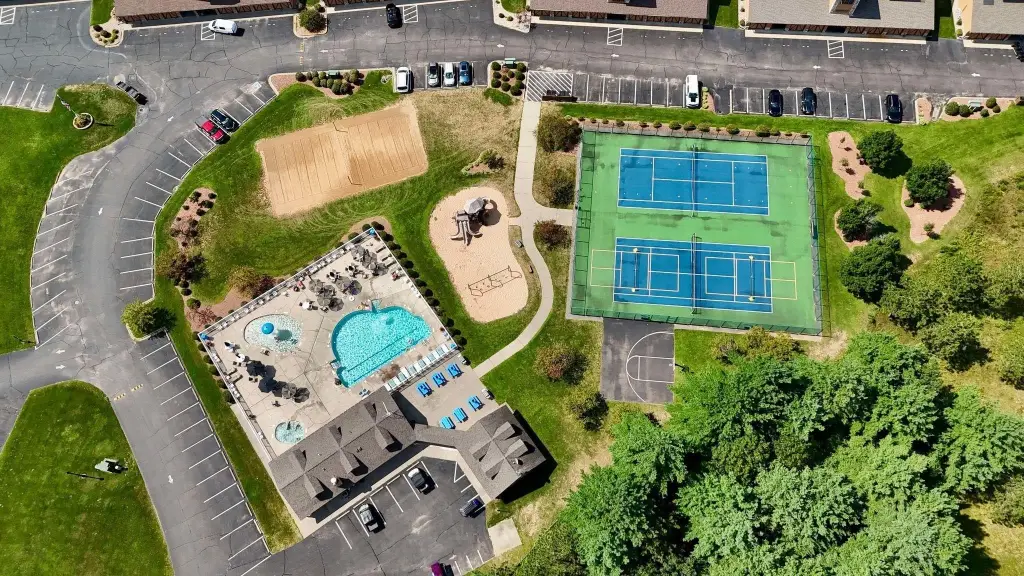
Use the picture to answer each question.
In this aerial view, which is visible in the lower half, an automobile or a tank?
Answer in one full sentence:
The feature located in the lower half is an automobile.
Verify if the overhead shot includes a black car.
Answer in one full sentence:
Yes, there's a black car down there.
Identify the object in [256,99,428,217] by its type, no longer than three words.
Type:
sports court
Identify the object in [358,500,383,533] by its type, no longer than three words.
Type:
car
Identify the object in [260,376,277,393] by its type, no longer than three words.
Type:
umbrella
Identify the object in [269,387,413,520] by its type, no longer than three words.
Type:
building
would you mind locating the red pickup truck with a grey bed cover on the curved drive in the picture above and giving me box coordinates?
[197,116,227,142]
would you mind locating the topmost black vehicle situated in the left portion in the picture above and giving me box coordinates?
[386,5,400,29]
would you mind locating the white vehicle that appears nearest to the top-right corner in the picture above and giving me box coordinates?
[685,72,700,109]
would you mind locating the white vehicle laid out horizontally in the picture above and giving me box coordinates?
[209,20,240,36]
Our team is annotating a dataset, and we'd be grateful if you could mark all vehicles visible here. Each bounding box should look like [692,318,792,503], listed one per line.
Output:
[768,90,782,118]
[212,110,238,133]
[458,61,471,86]
[209,20,240,36]
[685,72,700,109]
[1007,40,1024,65]
[428,557,448,576]
[427,62,440,87]
[407,466,433,497]
[885,94,902,123]
[456,494,488,521]
[386,5,400,29]
[443,62,456,88]
[197,116,227,142]
[800,87,816,115]
[358,500,383,533]
[396,68,409,94]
